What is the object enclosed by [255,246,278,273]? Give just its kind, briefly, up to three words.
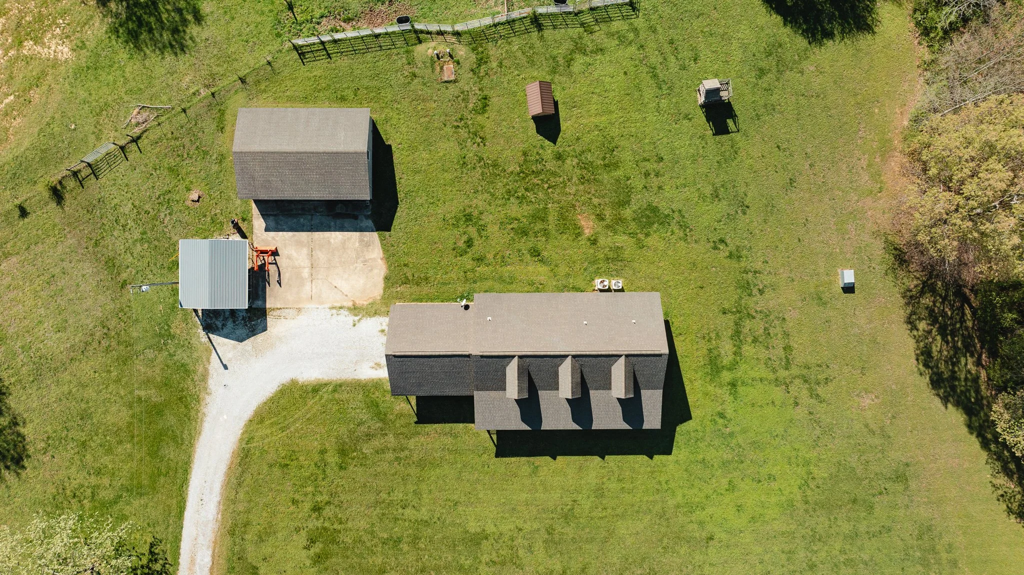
work vehicle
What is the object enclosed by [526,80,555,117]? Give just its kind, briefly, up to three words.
shed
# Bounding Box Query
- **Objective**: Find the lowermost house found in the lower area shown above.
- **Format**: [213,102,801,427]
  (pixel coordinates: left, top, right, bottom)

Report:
[384,292,670,429]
